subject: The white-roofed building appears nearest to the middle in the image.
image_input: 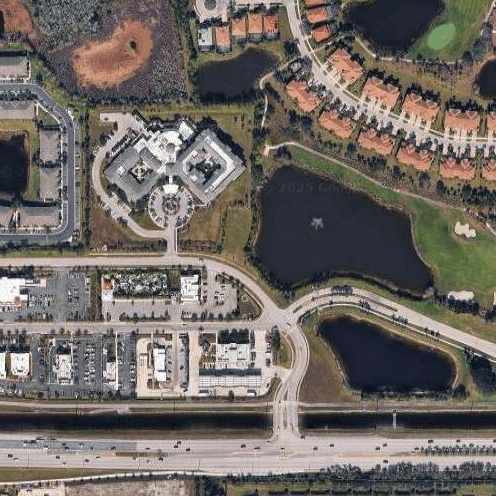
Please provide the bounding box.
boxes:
[181,275,199,302]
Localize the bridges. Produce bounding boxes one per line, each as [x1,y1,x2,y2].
[271,396,300,438]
